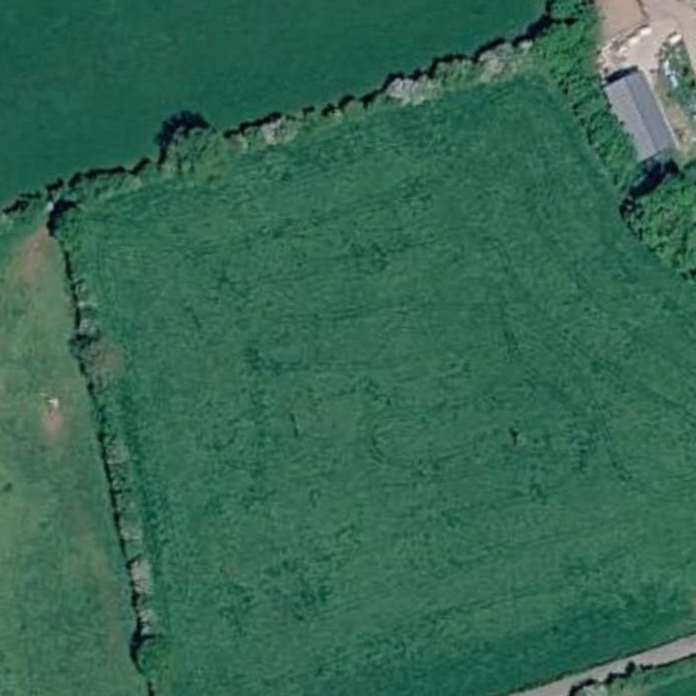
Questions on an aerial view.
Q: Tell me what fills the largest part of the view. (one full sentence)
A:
Most of the picture is covered by grass.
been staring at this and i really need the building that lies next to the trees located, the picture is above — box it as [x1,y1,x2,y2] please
[603,69,675,163]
